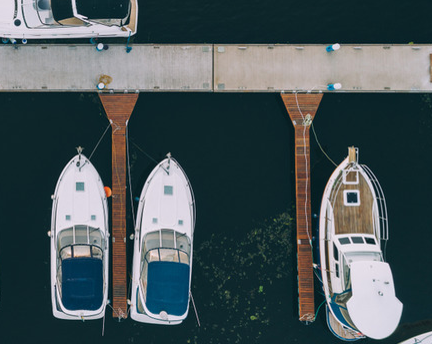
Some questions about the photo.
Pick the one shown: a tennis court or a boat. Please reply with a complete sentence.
I can see a boat in this picture.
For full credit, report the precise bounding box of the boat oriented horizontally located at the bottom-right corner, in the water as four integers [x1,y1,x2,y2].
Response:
[400,329,432,344]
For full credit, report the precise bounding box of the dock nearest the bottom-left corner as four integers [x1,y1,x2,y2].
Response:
[98,91,139,321]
